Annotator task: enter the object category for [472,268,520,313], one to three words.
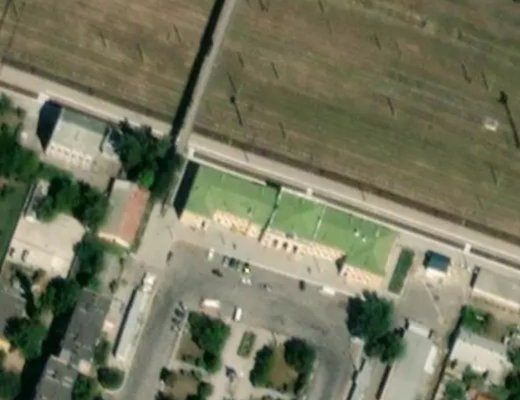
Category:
building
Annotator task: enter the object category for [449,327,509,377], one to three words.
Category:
house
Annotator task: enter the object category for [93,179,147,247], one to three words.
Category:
house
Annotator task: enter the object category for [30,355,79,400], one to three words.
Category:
building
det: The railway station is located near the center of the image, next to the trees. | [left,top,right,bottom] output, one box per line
[0,65,520,288]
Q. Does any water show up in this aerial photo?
No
